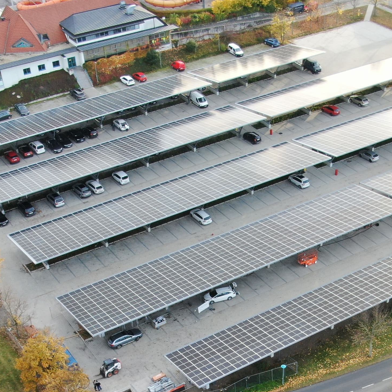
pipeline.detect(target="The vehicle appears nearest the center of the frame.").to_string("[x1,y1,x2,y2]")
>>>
[189,211,213,229]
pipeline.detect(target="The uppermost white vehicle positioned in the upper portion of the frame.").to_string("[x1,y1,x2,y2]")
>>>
[227,42,243,55]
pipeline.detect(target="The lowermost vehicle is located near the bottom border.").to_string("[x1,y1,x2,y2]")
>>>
[91,356,121,382]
